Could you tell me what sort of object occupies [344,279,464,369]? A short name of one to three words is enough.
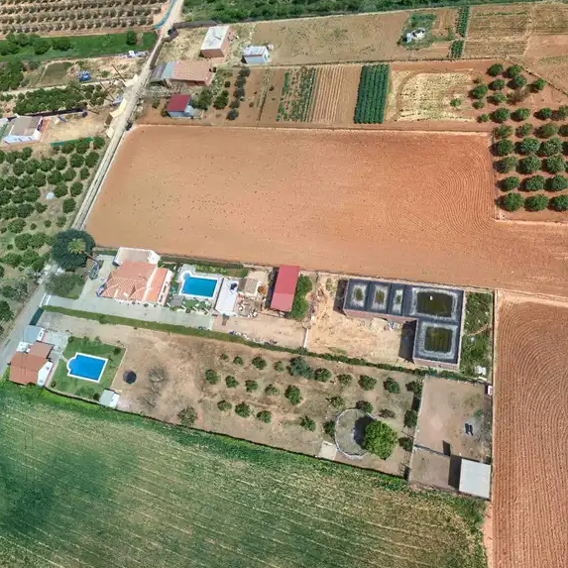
building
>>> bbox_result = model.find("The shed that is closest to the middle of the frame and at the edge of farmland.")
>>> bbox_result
[271,265,303,316]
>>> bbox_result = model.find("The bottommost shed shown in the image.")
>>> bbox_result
[459,459,491,500]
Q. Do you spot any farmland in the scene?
Yes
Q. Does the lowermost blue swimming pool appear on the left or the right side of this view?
left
